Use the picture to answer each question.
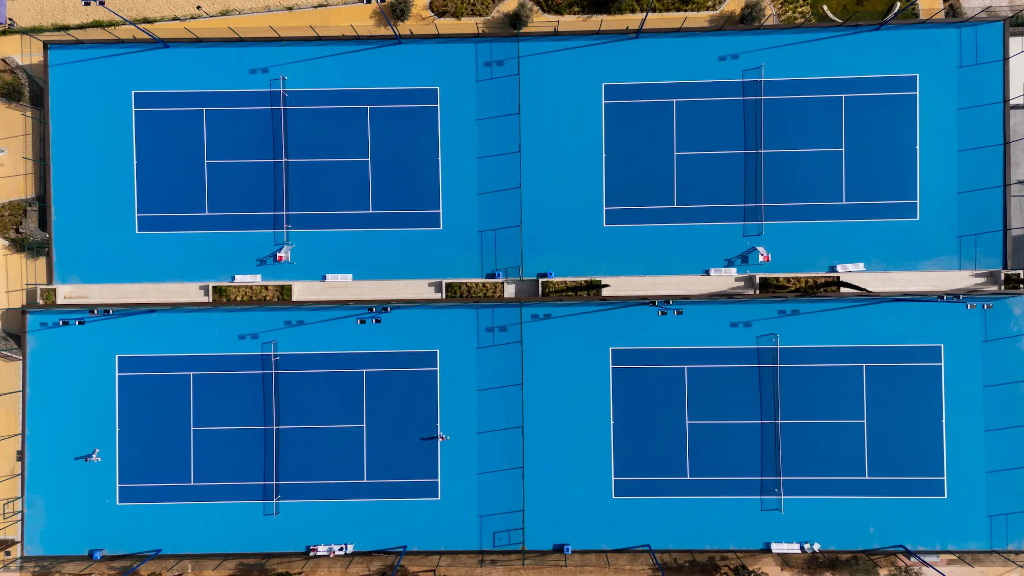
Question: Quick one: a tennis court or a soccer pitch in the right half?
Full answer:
Visible in the right half is a tennis court.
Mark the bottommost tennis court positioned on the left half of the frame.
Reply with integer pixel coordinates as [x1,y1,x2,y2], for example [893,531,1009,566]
[24,304,524,555]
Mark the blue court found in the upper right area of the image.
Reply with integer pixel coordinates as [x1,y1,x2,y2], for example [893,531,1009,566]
[519,20,1005,277]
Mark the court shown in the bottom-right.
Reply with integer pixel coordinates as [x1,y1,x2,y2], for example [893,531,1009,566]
[522,297,1024,551]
